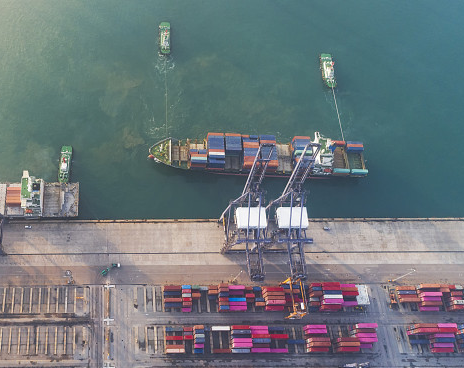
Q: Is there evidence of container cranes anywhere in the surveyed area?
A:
Yes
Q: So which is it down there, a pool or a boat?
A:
boat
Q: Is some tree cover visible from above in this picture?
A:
No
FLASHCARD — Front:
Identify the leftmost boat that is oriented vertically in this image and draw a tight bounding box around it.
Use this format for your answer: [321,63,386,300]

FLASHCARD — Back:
[56,146,74,182]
